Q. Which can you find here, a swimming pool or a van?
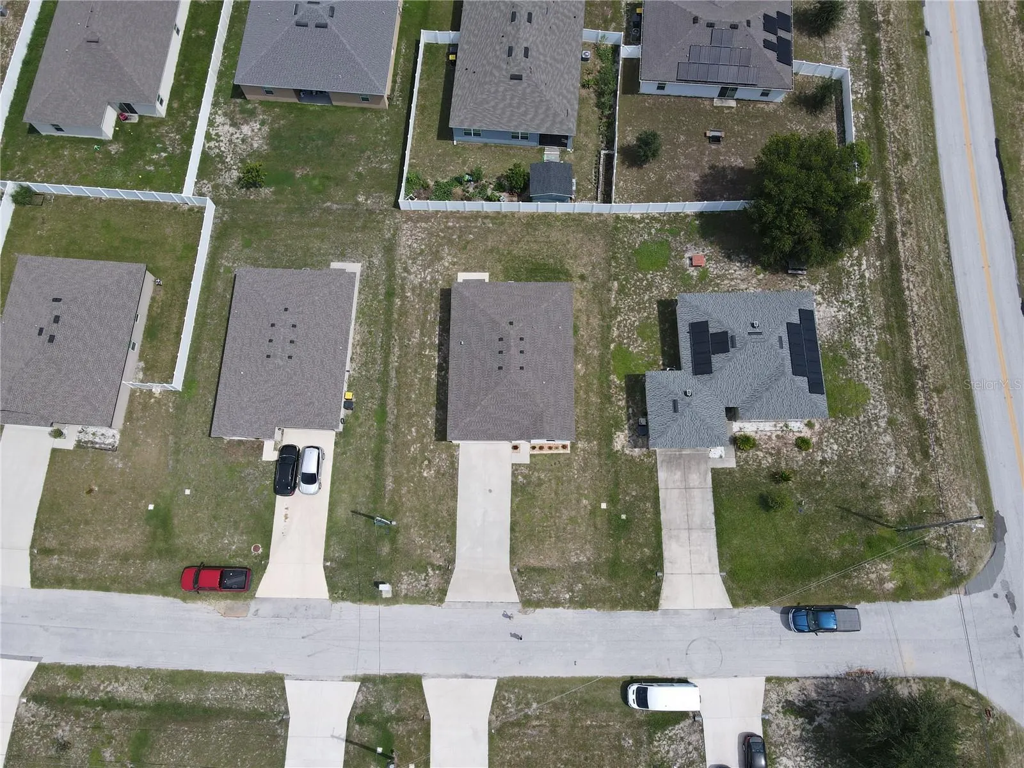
van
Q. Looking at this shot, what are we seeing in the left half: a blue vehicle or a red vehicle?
red vehicle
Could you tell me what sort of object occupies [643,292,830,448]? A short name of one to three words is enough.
house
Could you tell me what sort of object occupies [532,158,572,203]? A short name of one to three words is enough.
shed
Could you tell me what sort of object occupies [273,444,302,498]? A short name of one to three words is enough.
car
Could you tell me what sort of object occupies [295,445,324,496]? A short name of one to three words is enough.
car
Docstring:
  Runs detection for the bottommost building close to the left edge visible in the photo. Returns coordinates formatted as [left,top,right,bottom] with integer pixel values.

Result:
[0,255,152,427]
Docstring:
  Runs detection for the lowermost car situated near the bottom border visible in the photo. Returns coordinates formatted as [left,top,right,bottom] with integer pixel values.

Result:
[741,734,768,768]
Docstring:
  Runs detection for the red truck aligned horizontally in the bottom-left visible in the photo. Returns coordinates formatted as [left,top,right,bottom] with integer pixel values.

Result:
[179,564,254,594]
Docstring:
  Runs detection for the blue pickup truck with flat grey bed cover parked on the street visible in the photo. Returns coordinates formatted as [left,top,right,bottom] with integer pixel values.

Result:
[785,605,865,636]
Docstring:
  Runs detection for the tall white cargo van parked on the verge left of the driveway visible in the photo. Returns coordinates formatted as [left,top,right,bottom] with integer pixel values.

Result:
[625,680,704,714]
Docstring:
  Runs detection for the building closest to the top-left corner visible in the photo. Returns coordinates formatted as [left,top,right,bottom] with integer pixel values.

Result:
[21,0,193,139]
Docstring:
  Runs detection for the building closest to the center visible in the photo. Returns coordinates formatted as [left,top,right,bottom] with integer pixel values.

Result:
[446,282,578,445]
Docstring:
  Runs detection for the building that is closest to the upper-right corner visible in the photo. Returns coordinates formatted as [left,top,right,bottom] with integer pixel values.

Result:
[639,0,794,104]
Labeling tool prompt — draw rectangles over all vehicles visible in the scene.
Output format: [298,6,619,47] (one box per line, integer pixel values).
[273,444,302,498]
[625,680,704,714]
[741,734,768,768]
[785,605,865,636]
[295,445,324,496]
[179,564,254,594]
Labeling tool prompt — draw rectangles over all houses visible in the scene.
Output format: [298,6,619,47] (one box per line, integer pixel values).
[210,268,357,440]
[446,282,578,445]
[643,292,830,448]
[235,0,403,108]
[0,255,152,427]
[639,0,794,104]
[21,0,193,139]
[449,0,583,147]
